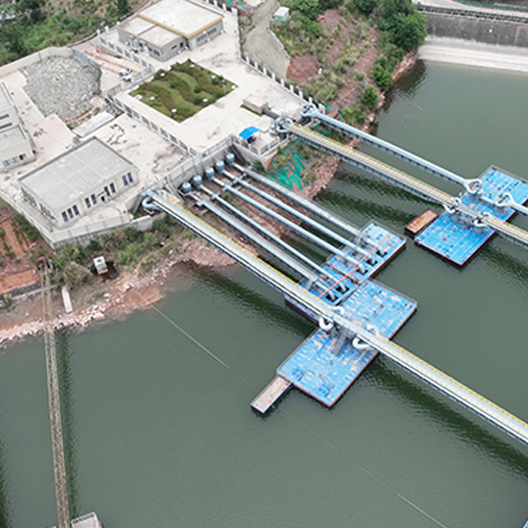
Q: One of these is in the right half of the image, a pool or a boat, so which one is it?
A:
boat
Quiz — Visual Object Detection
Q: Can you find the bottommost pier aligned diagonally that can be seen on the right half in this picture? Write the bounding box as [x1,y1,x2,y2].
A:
[279,276,417,410]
